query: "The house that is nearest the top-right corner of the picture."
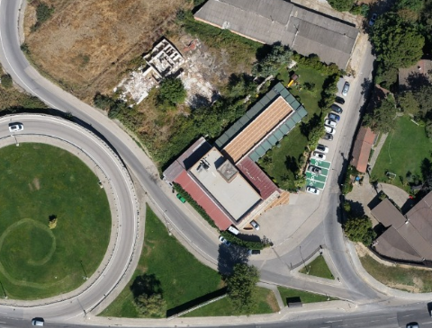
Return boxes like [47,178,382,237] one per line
[398,60,432,87]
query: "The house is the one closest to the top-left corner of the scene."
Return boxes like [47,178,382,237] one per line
[143,38,185,83]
